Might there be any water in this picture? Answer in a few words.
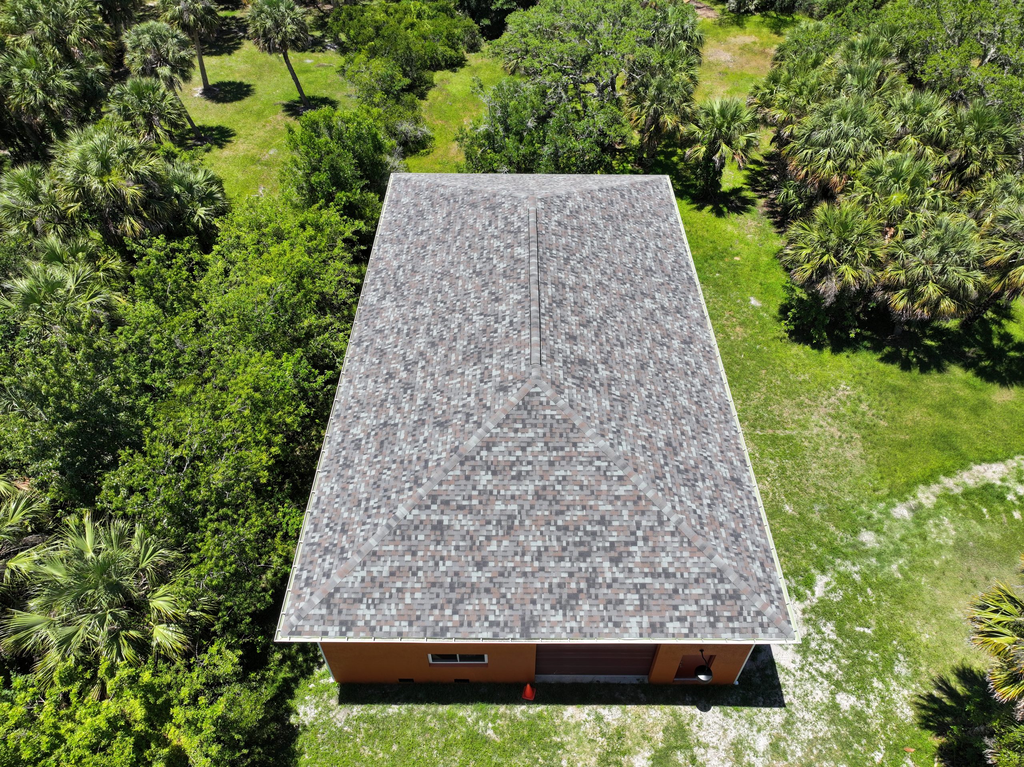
No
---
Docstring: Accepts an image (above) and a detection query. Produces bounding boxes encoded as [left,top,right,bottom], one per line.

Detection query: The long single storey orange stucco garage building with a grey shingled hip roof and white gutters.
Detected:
[275,173,802,685]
